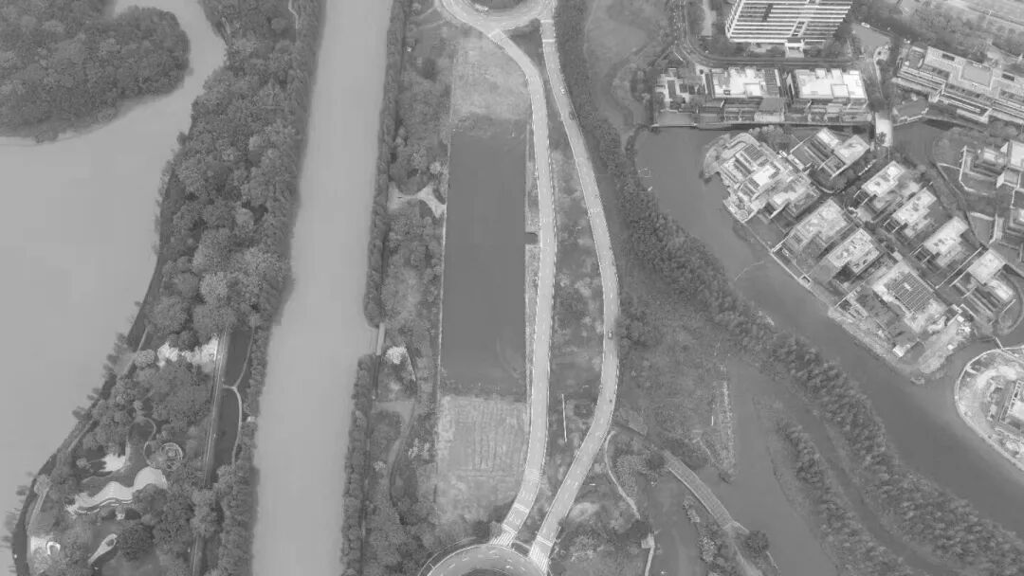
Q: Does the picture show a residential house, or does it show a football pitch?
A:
residential house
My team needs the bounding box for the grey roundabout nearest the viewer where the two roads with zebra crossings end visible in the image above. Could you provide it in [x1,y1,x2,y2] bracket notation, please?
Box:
[413,531,562,576]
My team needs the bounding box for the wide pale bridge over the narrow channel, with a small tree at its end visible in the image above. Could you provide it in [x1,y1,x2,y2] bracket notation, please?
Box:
[876,111,894,151]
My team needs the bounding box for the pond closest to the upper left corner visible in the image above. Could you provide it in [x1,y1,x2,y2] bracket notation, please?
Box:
[441,132,537,397]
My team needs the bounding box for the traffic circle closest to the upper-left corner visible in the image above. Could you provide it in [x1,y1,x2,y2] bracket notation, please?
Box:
[432,0,558,36]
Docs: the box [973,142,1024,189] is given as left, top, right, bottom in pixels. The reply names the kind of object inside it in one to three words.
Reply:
house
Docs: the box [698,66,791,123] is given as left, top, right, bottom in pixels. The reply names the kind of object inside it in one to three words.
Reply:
house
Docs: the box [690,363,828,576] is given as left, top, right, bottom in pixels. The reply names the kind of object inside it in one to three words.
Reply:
pond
